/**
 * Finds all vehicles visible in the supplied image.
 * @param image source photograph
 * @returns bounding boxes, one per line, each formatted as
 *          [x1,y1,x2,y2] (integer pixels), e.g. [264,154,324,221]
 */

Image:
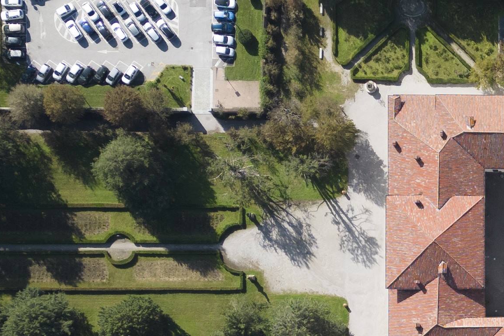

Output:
[20,61,39,85]
[78,62,97,87]
[4,47,27,59]
[36,61,54,84]
[211,21,237,33]
[212,0,237,9]
[1,0,23,8]
[93,17,112,41]
[52,60,69,83]
[93,63,111,86]
[128,0,146,23]
[211,47,236,57]
[81,0,99,24]
[142,19,161,44]
[2,22,25,33]
[112,21,128,43]
[2,34,25,47]
[65,18,83,40]
[111,0,127,18]
[97,0,116,23]
[106,64,123,87]
[121,61,140,87]
[211,33,236,45]
[55,1,78,17]
[78,14,95,37]
[66,61,84,84]
[155,0,173,18]
[211,8,237,21]
[141,0,159,21]
[156,17,176,42]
